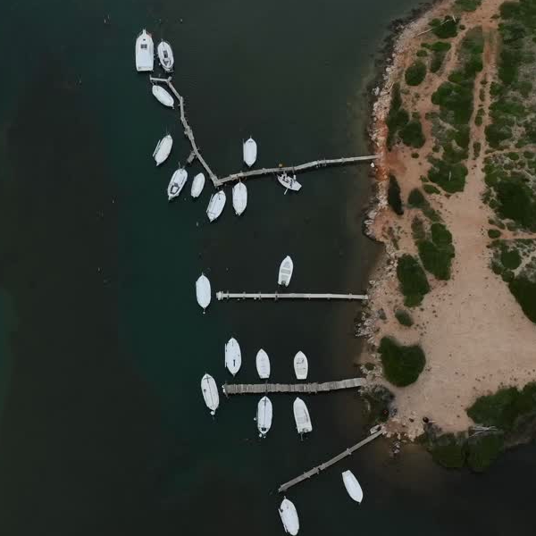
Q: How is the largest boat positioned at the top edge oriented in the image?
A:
from top to bottom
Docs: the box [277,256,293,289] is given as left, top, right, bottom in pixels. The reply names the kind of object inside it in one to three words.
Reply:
boat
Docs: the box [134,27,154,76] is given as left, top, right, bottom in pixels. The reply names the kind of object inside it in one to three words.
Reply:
boat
